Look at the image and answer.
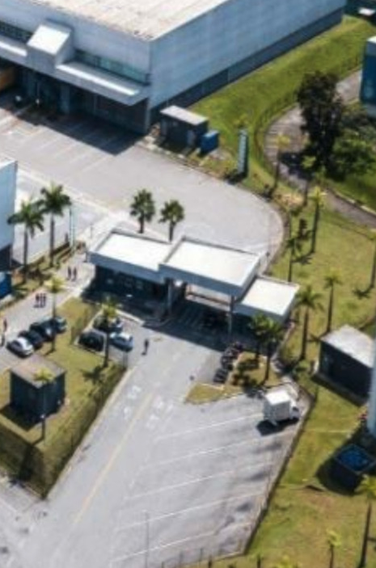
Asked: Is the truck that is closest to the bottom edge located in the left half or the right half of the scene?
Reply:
right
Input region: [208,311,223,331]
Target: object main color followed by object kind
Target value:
black car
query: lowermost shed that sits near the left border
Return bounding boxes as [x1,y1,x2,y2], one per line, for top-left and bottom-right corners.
[10,355,66,420]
